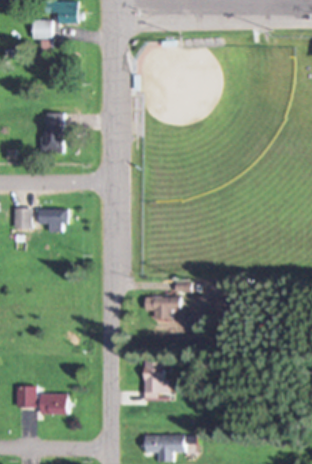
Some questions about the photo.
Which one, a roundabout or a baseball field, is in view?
baseball field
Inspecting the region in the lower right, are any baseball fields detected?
No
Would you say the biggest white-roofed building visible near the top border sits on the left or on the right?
left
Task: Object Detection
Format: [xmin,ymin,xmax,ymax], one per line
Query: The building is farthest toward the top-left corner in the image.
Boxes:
[30,20,56,40]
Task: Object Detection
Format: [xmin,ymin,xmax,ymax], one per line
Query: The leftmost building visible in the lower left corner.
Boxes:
[16,386,38,408]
